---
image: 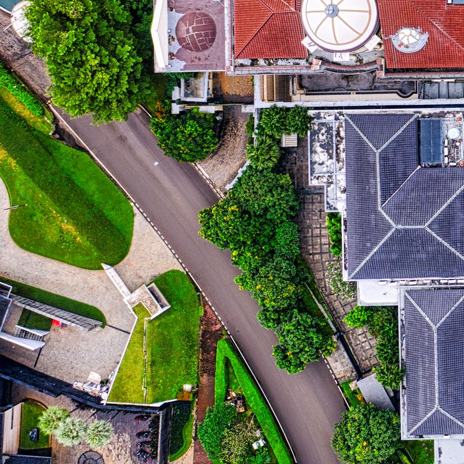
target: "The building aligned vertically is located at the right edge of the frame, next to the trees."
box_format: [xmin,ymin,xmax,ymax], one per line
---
[306,107,464,464]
